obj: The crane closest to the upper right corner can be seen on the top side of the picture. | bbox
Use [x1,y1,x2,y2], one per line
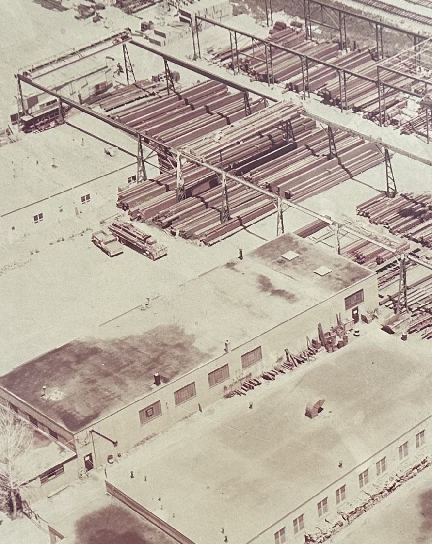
[175,94,303,162]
